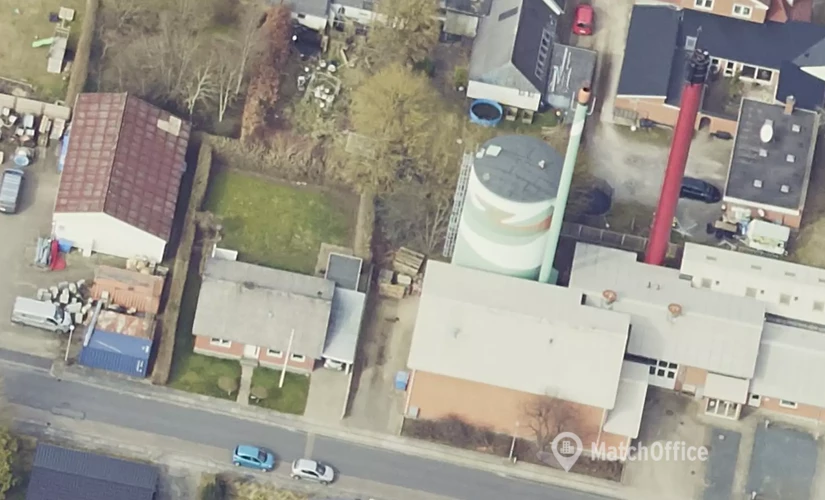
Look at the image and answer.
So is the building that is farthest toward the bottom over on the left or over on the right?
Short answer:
left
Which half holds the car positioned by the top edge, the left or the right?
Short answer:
right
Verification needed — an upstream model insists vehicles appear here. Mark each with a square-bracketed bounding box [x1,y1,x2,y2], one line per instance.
[230,444,276,473]
[288,457,337,486]
[322,357,342,370]
[678,177,723,206]
[10,295,73,336]
[0,173,26,215]
[572,6,594,39]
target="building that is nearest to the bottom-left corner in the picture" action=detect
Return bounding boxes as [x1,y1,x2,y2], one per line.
[26,442,162,500]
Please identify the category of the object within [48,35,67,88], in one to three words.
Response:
shed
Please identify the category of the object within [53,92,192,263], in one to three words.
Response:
barn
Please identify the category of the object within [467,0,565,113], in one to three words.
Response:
house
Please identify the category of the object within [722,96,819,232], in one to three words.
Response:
house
